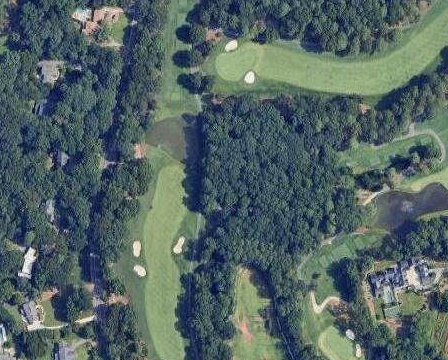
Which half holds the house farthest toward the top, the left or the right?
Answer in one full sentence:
You can find the house farthest toward the top on the left side of the picture.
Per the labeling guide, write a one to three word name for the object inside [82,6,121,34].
house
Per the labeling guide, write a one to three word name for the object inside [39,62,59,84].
house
